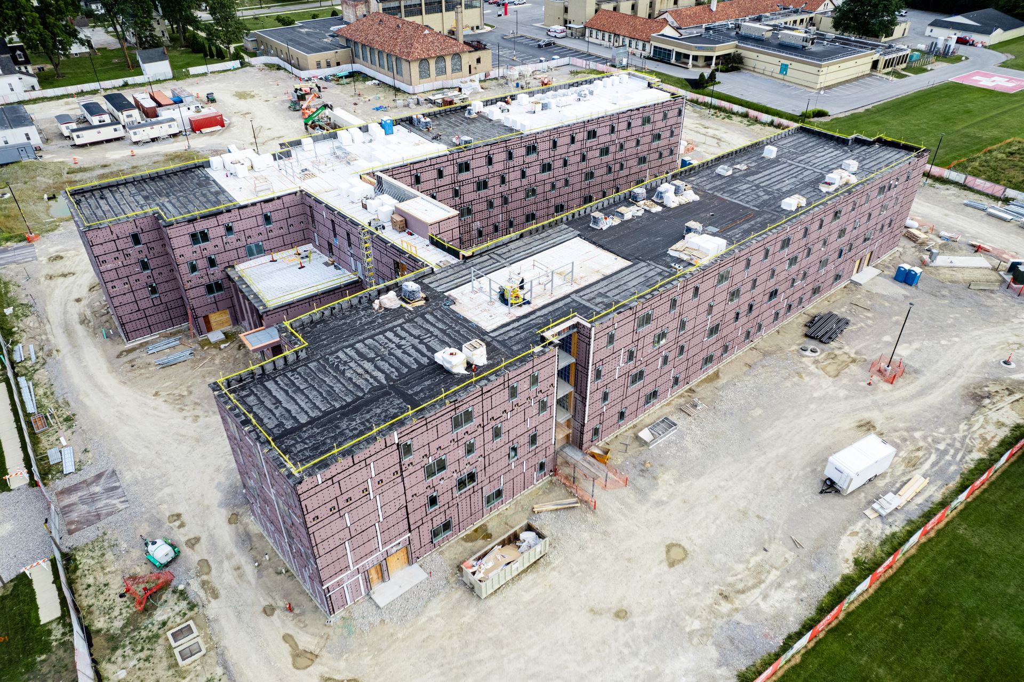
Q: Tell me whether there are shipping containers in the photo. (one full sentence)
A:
Yes, there's a shipping container here.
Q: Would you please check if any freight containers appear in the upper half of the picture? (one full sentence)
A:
Yes, looking in the upper half of the picture, one can make out a freight container.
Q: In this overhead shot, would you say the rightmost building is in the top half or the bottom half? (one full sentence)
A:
The top half of the photo is where the rightmost building is.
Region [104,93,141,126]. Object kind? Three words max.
trailer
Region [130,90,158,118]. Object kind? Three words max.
shipping container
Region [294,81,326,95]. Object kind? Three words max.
work vehicle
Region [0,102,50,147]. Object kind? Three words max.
building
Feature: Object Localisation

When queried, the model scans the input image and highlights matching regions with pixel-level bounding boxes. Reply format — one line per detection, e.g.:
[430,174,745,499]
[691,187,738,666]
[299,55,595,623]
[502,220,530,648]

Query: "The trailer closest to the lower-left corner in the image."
[136,530,184,565]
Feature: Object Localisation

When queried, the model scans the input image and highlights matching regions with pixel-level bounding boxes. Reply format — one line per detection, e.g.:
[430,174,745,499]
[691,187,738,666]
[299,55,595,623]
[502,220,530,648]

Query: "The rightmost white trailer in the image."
[818,432,895,495]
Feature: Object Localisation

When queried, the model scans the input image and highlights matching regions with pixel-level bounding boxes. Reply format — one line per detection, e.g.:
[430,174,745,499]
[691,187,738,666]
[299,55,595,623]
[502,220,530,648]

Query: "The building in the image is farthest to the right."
[926,4,1024,46]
